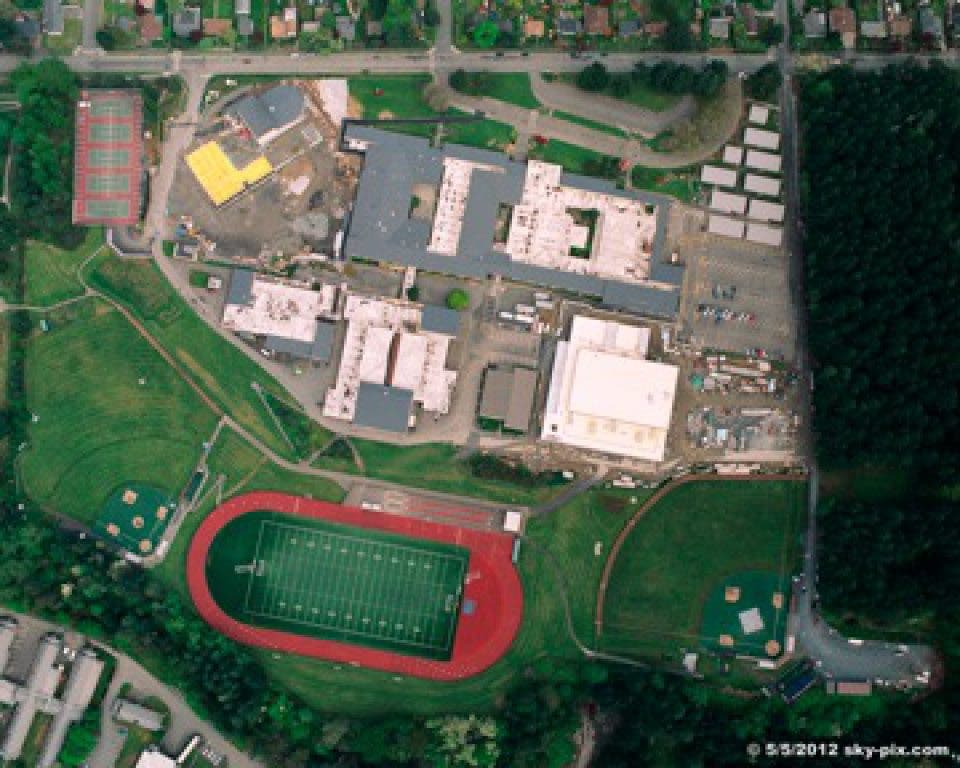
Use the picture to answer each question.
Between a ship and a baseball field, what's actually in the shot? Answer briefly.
baseball field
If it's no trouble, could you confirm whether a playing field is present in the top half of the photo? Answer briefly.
No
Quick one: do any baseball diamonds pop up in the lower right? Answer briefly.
Yes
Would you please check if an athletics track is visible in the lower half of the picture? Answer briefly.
Yes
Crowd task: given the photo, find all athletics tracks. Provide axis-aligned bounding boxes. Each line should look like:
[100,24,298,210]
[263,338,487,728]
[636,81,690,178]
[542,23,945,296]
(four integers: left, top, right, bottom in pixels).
[186,491,523,680]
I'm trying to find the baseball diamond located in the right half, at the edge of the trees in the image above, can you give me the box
[595,475,806,664]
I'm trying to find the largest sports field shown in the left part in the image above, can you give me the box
[204,510,473,662]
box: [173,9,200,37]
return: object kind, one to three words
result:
house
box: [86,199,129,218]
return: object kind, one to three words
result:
tennis court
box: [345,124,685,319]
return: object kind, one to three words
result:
building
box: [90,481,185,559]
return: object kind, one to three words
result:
baseball field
